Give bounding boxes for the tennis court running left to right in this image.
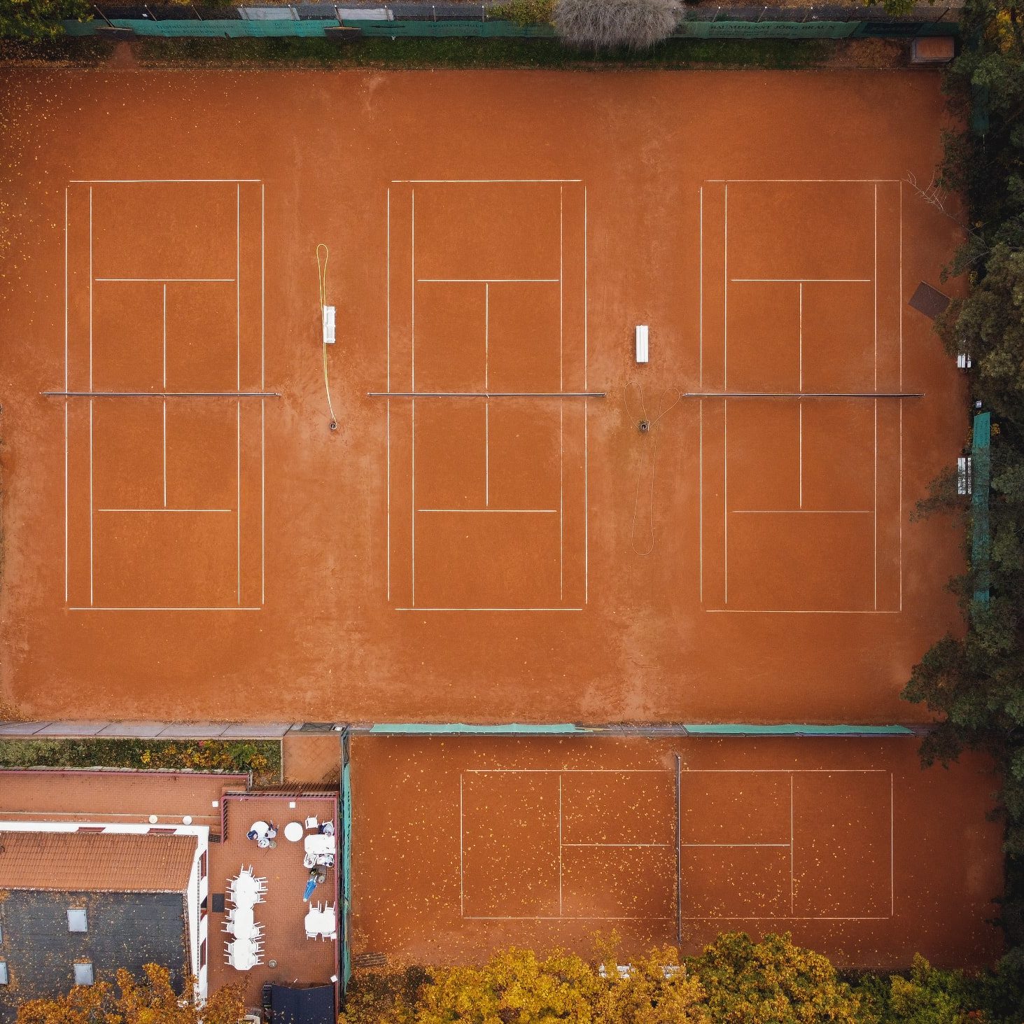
[350,724,1003,970]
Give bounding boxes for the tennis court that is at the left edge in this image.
[0,69,329,724]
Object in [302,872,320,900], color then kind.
blue umbrella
